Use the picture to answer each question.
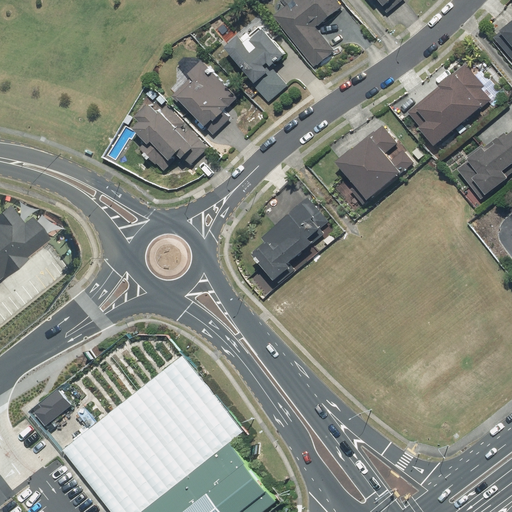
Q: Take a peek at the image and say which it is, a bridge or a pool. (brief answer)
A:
pool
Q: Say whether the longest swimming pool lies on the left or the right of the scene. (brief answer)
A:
left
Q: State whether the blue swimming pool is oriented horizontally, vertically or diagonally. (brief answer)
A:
diagonally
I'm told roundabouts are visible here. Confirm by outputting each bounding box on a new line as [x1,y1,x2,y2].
[145,234,192,280]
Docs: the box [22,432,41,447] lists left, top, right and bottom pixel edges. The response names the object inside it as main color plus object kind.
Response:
black car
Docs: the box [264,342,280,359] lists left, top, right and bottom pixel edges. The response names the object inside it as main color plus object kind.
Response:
white vehicle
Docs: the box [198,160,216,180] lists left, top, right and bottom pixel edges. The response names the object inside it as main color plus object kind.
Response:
white vehicle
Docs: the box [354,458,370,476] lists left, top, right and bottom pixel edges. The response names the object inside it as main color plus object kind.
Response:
white car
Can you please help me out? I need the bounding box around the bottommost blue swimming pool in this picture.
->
[106,125,137,162]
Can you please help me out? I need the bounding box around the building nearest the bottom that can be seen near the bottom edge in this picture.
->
[140,432,282,512]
